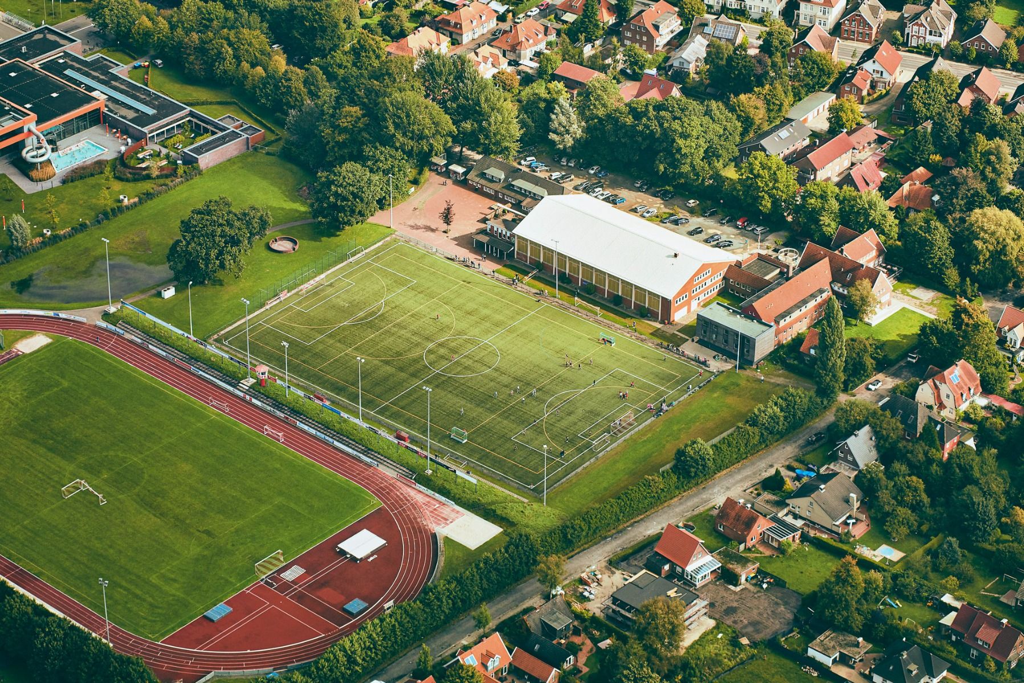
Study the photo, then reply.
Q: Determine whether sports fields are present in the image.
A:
Yes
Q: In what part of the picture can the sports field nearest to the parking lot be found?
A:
center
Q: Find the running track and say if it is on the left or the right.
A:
left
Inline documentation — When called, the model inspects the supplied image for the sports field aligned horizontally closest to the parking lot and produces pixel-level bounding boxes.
[207,232,722,497]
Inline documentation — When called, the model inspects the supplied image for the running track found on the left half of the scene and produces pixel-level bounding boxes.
[0,317,435,671]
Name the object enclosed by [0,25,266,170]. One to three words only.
building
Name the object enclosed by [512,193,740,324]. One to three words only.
building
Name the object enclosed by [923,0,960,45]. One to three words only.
house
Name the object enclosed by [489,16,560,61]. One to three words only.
house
